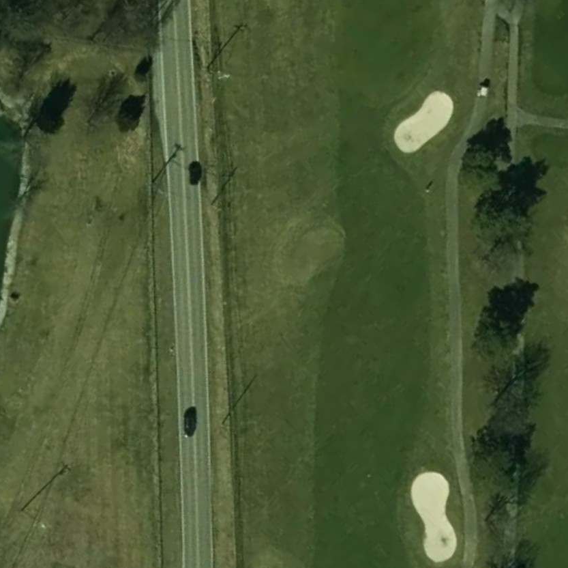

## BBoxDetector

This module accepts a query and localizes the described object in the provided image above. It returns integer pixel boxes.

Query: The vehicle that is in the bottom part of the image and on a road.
[182,410,195,436]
